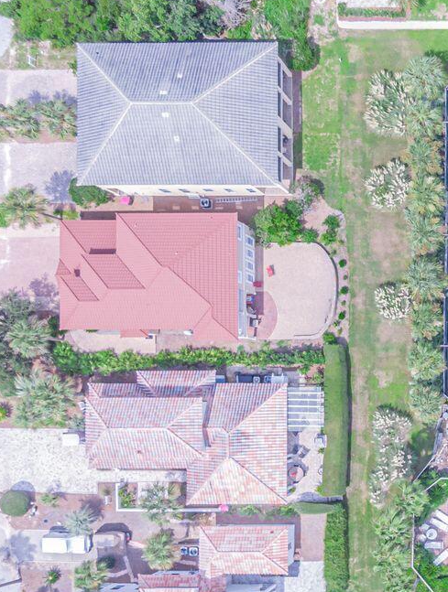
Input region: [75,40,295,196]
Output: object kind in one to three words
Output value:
house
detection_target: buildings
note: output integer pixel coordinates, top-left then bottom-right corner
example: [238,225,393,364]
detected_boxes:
[54,212,262,340]
[75,40,295,196]
[86,522,295,592]
[84,370,289,506]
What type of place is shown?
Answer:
residential area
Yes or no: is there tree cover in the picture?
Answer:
Yes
